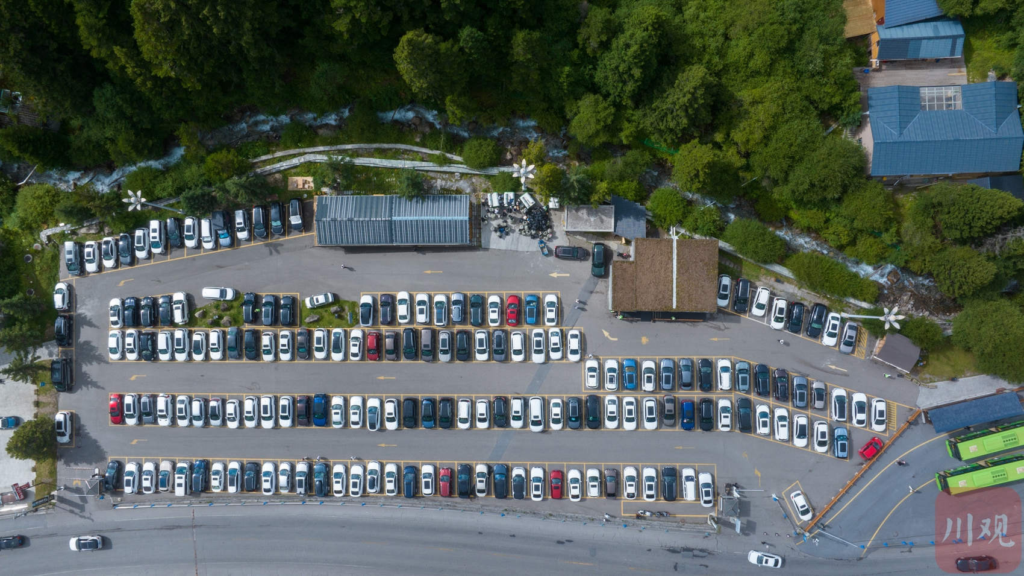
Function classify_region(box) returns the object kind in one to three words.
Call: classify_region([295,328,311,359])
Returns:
car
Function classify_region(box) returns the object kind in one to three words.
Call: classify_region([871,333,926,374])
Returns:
shed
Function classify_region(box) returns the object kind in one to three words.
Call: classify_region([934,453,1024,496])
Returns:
bus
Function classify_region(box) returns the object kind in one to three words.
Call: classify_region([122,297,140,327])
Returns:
car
